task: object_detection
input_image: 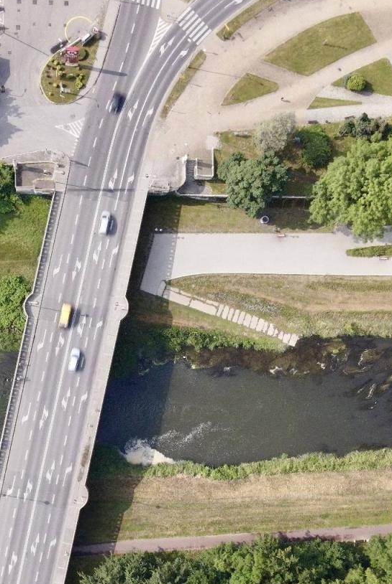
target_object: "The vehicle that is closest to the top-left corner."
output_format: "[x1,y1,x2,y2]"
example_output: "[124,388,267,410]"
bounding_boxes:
[109,91,122,114]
